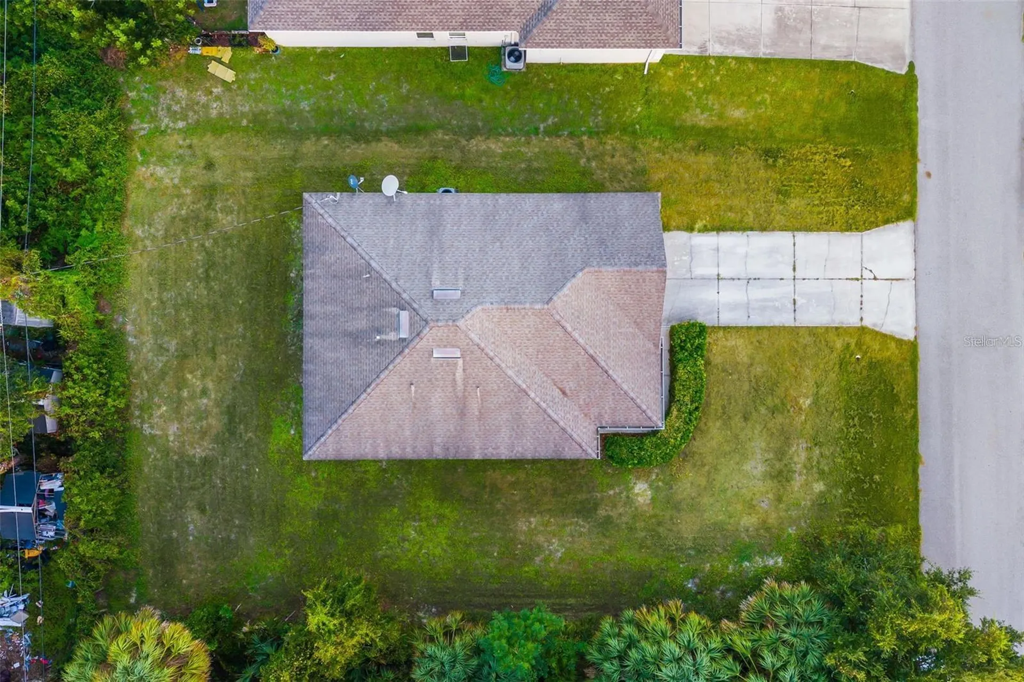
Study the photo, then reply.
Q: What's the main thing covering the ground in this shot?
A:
grass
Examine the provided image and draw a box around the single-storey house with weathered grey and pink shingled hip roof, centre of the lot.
[301,189,669,460]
